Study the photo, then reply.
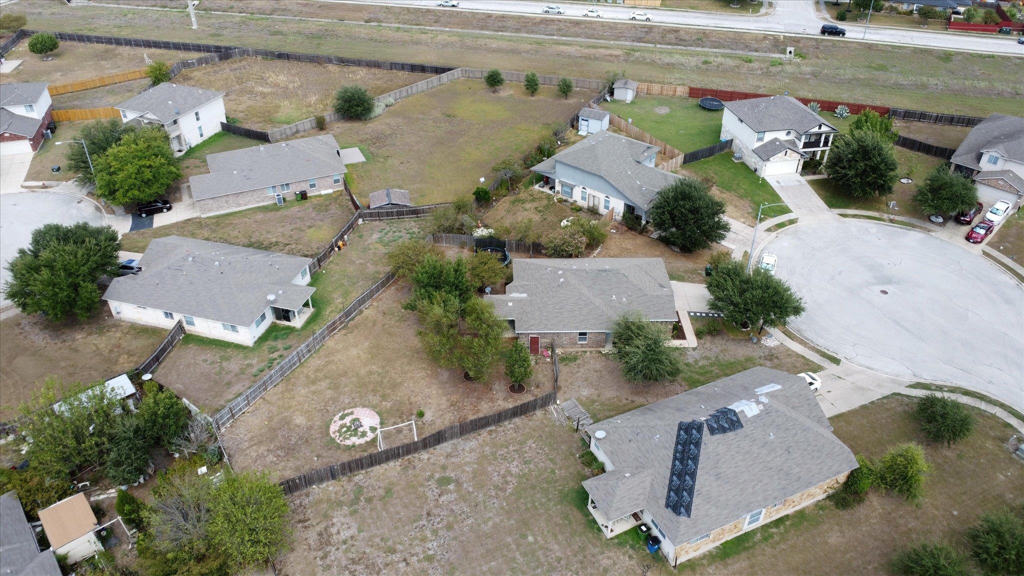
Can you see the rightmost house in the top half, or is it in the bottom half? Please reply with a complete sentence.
You can find the rightmost house in the top half.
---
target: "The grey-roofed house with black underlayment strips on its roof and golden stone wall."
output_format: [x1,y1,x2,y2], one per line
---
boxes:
[577,367,852,563]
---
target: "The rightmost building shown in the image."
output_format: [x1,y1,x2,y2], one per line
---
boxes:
[950,113,1024,211]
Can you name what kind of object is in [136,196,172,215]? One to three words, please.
car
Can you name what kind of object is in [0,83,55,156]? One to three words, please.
house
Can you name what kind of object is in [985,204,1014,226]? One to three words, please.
car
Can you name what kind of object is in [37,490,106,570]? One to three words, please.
shed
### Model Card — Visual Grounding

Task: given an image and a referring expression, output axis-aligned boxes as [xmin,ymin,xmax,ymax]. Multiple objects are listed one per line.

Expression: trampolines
[473,233,511,265]
[699,99,723,113]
